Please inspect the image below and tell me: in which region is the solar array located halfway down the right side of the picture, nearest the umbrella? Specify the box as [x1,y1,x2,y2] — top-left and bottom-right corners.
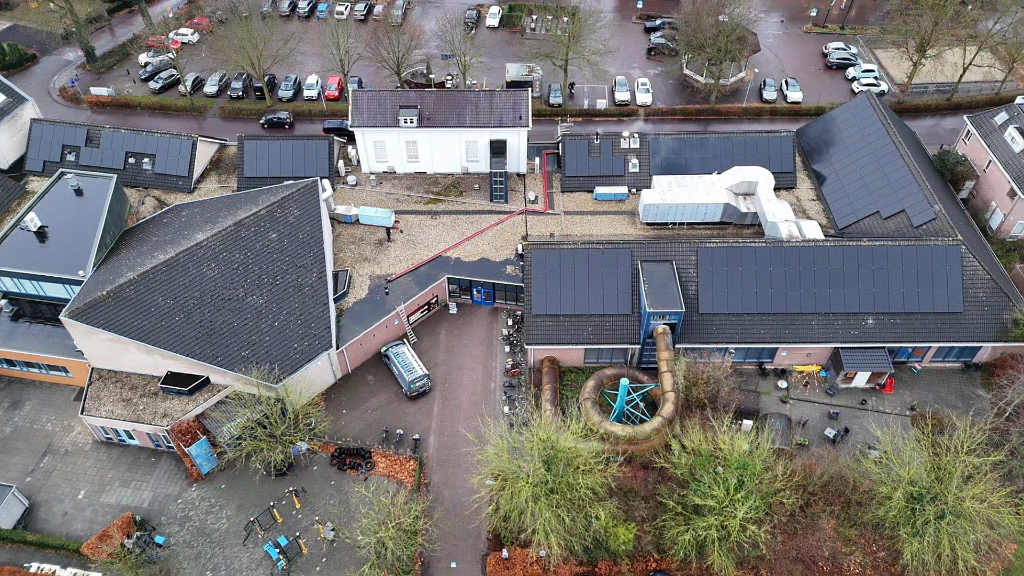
[698,246,969,313]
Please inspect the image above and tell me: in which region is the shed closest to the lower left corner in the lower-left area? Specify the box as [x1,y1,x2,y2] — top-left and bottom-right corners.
[0,478,32,526]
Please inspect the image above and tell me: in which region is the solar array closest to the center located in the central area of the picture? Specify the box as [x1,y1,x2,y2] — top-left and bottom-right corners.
[532,247,633,314]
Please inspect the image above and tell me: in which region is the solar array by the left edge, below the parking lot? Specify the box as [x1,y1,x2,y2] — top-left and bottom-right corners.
[15,123,192,175]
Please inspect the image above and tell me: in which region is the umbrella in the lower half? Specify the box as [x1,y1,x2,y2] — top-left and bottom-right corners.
[789,365,823,395]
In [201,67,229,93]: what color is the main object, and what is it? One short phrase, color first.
gray car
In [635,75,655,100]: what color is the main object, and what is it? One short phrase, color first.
white car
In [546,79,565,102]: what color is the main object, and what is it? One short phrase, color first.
gray car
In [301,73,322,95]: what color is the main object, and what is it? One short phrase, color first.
white car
